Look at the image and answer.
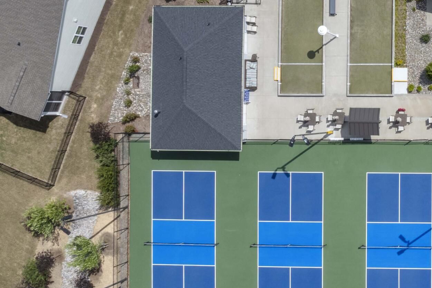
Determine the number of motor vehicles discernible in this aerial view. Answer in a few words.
none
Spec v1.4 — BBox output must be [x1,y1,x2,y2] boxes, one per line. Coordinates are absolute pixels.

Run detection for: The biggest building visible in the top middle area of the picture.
[150,5,247,152]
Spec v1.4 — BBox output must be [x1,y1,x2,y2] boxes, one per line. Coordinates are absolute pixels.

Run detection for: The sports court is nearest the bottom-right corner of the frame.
[366,173,432,288]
